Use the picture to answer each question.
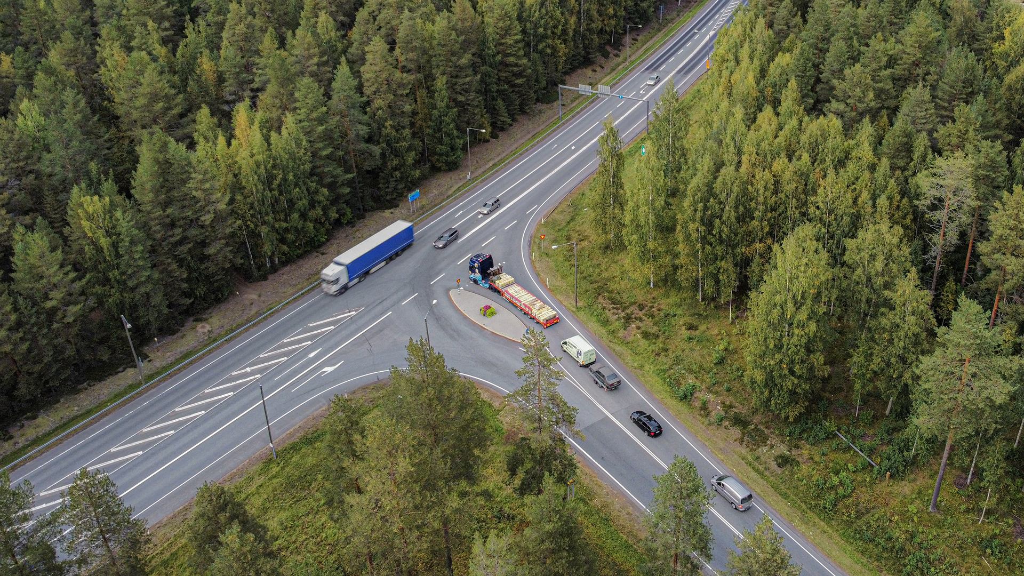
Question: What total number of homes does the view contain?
zero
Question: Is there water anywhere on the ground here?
No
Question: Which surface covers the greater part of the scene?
trees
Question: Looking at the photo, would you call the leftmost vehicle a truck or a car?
truck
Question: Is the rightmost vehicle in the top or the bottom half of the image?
bottom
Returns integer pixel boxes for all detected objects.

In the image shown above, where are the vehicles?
[432,227,460,248]
[710,473,756,511]
[561,334,597,368]
[589,360,622,389]
[477,196,502,215]
[468,251,561,328]
[628,408,667,439]
[646,73,661,84]
[323,220,415,296]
